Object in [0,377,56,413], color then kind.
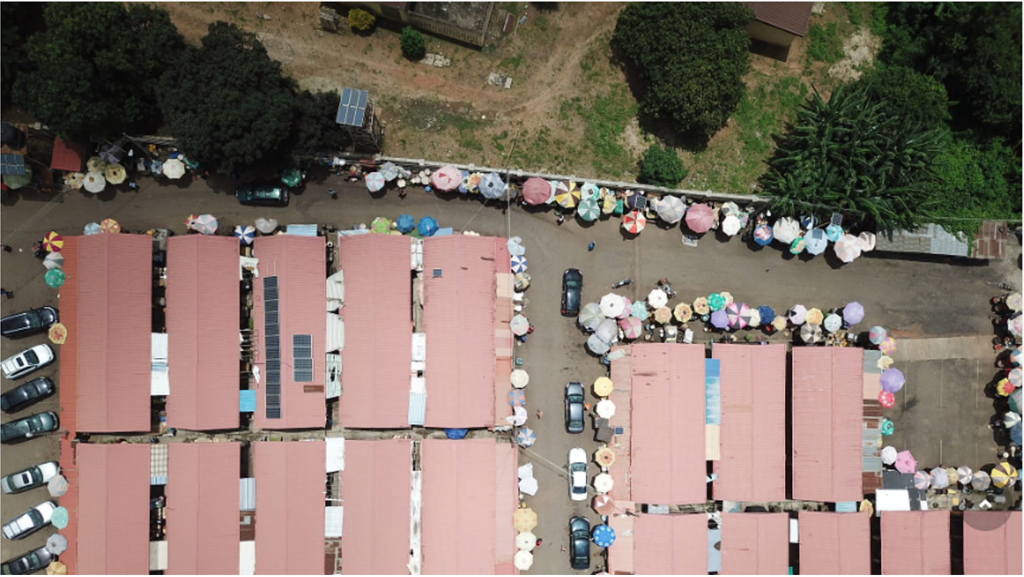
black car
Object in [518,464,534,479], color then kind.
white umbrella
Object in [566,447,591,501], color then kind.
white car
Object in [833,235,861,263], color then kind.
white umbrella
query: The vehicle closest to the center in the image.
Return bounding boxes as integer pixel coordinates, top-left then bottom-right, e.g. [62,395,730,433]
[560,267,585,318]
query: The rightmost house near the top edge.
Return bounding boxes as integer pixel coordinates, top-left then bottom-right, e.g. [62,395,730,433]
[725,0,816,51]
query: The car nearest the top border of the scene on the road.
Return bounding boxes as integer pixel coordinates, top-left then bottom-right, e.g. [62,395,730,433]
[235,182,291,209]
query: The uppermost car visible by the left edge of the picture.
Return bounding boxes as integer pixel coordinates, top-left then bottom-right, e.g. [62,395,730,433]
[0,305,57,338]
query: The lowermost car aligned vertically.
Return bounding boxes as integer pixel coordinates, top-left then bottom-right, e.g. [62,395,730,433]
[568,515,593,571]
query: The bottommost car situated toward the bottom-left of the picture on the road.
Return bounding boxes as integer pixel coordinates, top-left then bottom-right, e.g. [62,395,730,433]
[0,539,55,574]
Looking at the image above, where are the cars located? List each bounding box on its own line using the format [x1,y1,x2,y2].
[0,305,57,338]
[0,411,59,442]
[235,182,291,209]
[0,539,55,574]
[566,447,591,501]
[0,343,57,379]
[560,267,585,318]
[0,377,56,413]
[563,381,588,433]
[568,515,593,571]
[0,462,60,493]
[0,502,57,540]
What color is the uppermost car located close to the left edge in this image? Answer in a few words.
black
